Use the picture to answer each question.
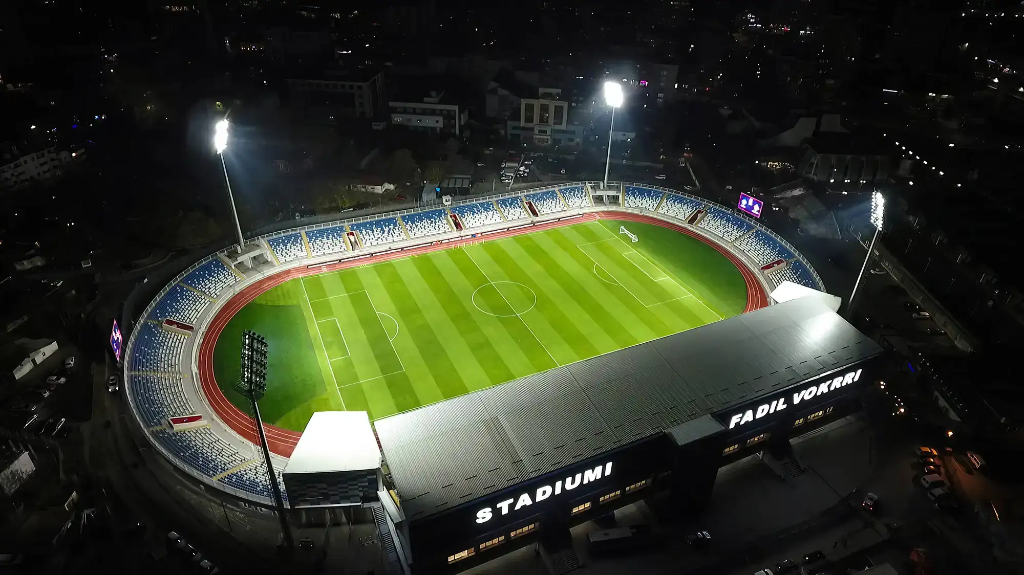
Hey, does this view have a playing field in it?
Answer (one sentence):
Yes, this view includes a playing field.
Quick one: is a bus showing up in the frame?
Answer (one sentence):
Yes, this view includes a bus.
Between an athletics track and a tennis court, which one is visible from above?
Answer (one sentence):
Of the two, only an athletics track appears.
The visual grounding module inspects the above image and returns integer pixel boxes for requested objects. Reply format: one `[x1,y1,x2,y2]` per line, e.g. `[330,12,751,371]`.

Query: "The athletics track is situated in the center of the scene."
[197,211,771,455]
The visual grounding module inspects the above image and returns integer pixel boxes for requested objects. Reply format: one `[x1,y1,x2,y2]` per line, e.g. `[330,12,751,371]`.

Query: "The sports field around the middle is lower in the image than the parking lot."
[297,219,730,428]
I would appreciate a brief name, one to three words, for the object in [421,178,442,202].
shed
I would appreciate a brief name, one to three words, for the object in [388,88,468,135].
building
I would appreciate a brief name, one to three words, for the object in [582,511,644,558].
bus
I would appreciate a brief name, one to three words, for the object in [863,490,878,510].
car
